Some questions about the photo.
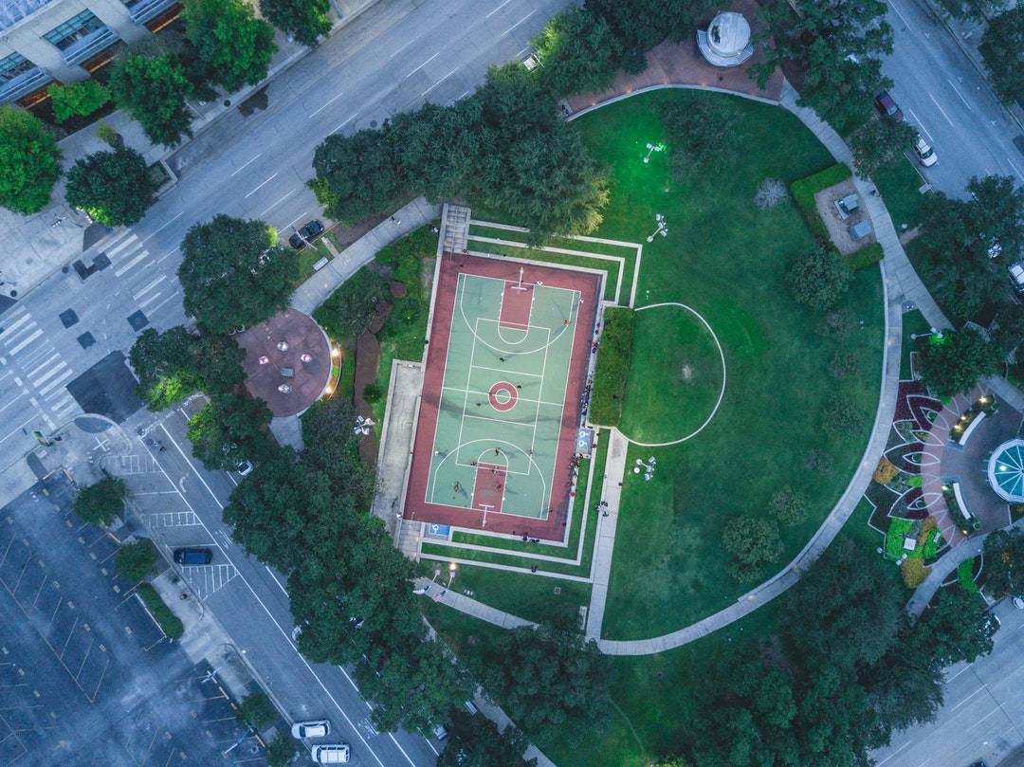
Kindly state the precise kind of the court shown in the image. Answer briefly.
basketball court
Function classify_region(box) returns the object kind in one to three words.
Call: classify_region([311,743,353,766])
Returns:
vehicle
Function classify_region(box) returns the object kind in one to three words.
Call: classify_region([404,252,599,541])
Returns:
basketball court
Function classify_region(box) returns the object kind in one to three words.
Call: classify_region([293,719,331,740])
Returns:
car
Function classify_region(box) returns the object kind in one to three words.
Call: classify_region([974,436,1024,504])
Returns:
building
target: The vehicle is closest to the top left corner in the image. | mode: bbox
[287,219,327,251]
